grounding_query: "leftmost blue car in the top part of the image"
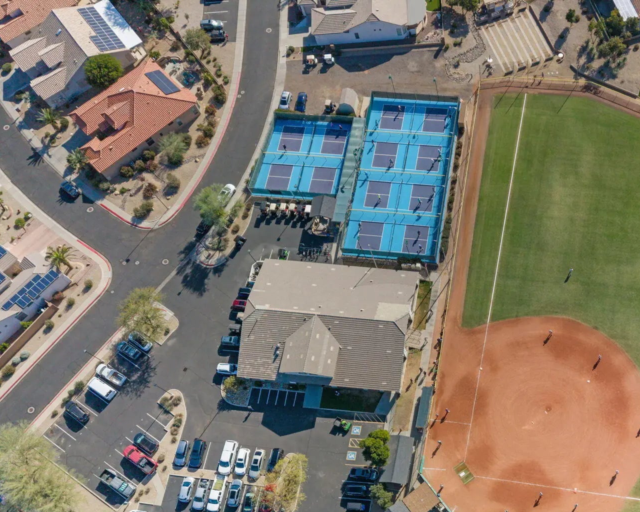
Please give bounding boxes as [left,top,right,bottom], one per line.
[60,180,82,199]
